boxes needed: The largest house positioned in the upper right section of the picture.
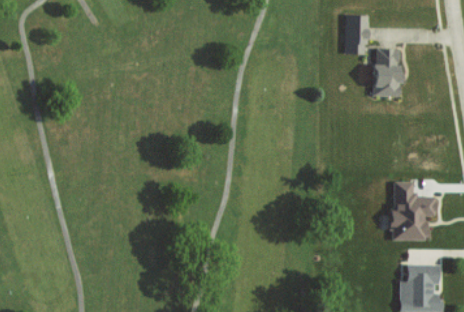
[374,49,406,98]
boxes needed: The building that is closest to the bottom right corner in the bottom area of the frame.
[401,266,445,312]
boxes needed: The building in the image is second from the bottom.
[392,182,440,242]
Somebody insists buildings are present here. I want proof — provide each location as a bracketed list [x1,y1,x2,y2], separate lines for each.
[392,182,440,242]
[401,266,445,312]
[345,15,362,56]
[374,49,406,98]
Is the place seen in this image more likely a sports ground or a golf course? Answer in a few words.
golf course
